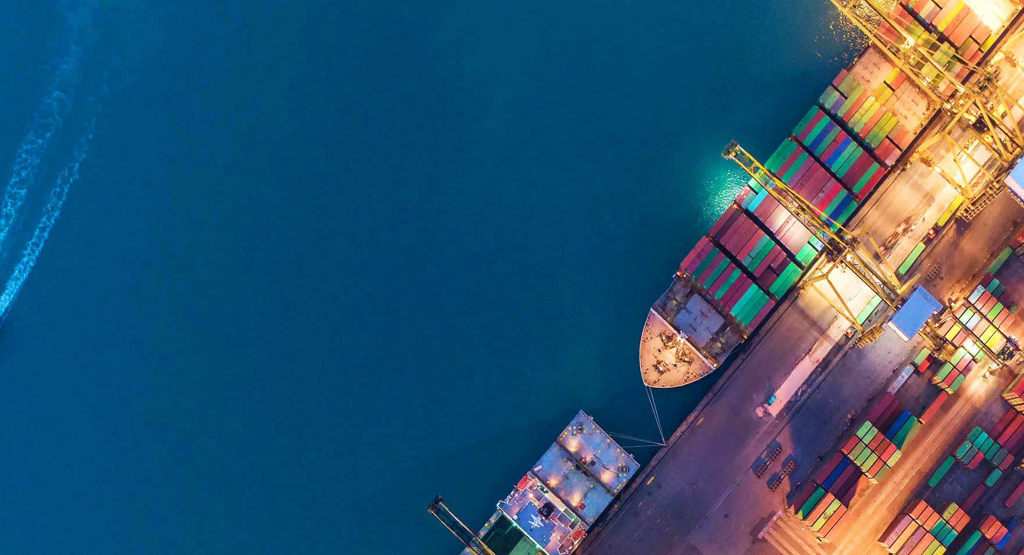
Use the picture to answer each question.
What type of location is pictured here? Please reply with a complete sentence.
The picture captures a port.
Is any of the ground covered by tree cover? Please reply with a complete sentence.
No, there is no tree cover in the image.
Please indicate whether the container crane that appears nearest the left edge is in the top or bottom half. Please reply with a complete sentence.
It is in the bottom half that the container crane that appears nearest the left edge appears.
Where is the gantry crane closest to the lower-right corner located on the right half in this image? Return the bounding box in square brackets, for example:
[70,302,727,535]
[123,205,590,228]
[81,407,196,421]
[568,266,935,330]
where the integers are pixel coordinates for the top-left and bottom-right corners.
[939,297,1023,373]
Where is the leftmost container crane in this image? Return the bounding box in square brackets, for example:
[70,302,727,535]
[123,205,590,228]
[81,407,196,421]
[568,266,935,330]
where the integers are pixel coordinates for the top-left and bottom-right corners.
[424,494,500,555]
